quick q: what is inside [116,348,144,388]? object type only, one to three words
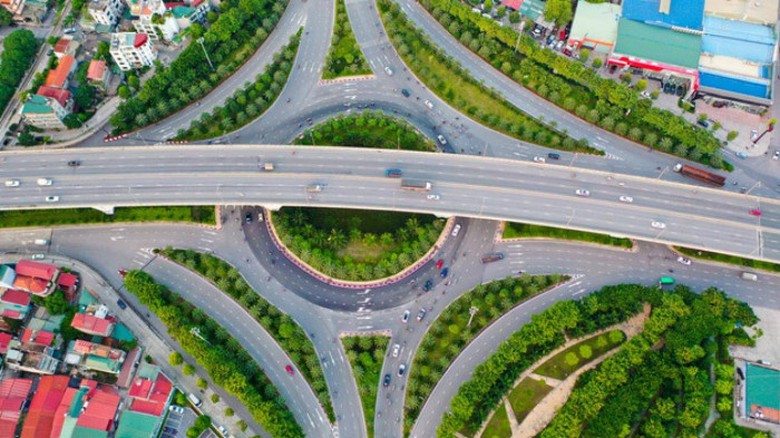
shed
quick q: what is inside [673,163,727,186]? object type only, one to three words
truck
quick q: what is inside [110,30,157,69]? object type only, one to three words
building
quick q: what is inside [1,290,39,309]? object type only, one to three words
house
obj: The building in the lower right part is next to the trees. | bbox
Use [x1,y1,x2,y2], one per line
[743,363,780,427]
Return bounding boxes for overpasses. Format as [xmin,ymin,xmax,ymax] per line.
[0,145,780,263]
